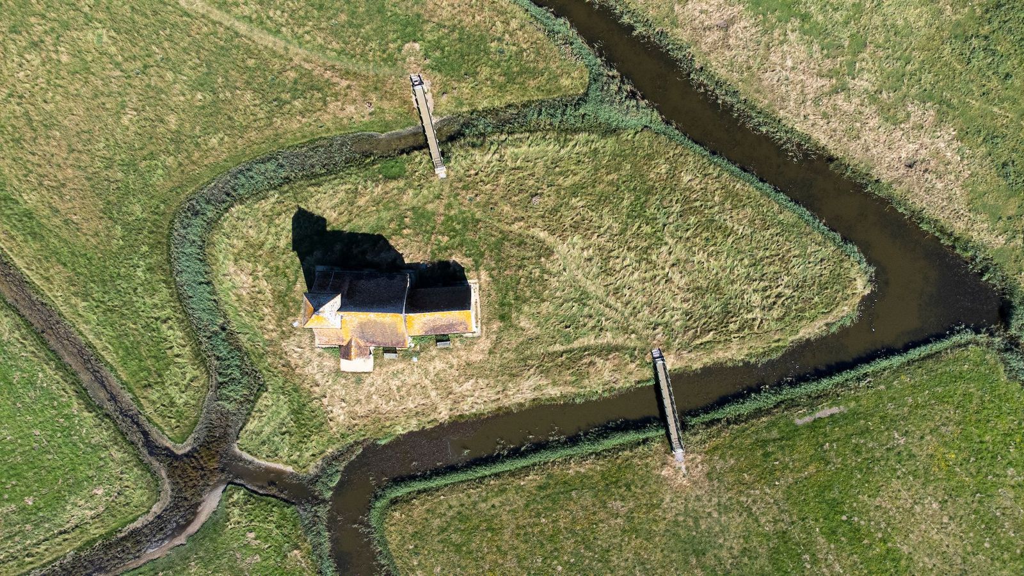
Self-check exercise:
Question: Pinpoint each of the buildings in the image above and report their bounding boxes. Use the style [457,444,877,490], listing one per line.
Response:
[304,273,478,361]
